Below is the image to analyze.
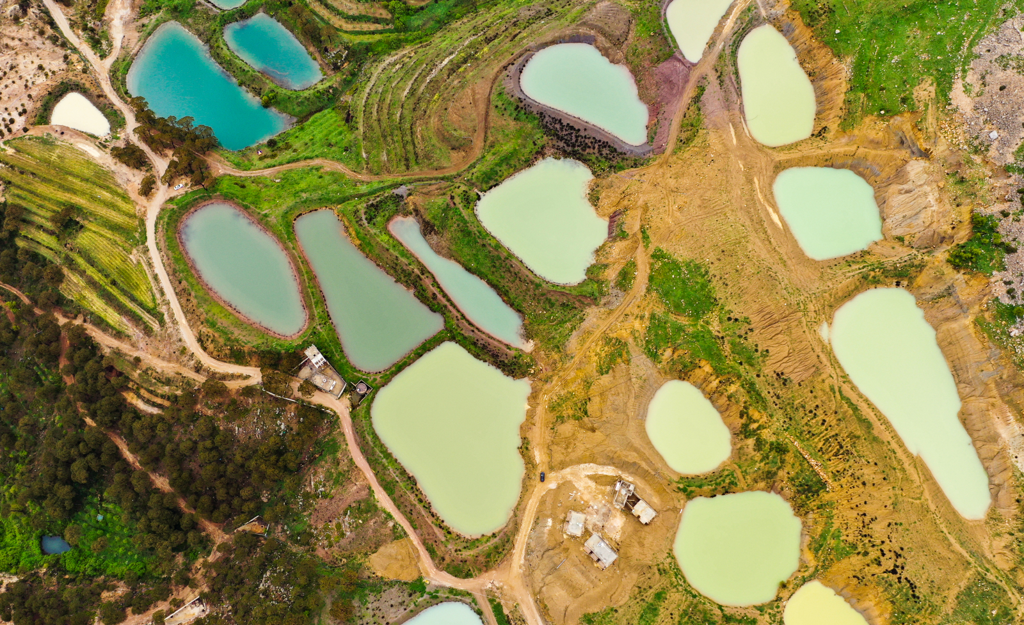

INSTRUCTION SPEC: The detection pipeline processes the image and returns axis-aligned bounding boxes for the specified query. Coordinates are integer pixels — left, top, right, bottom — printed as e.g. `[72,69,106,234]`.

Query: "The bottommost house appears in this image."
[581,534,618,570]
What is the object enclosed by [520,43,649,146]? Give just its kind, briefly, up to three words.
pond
